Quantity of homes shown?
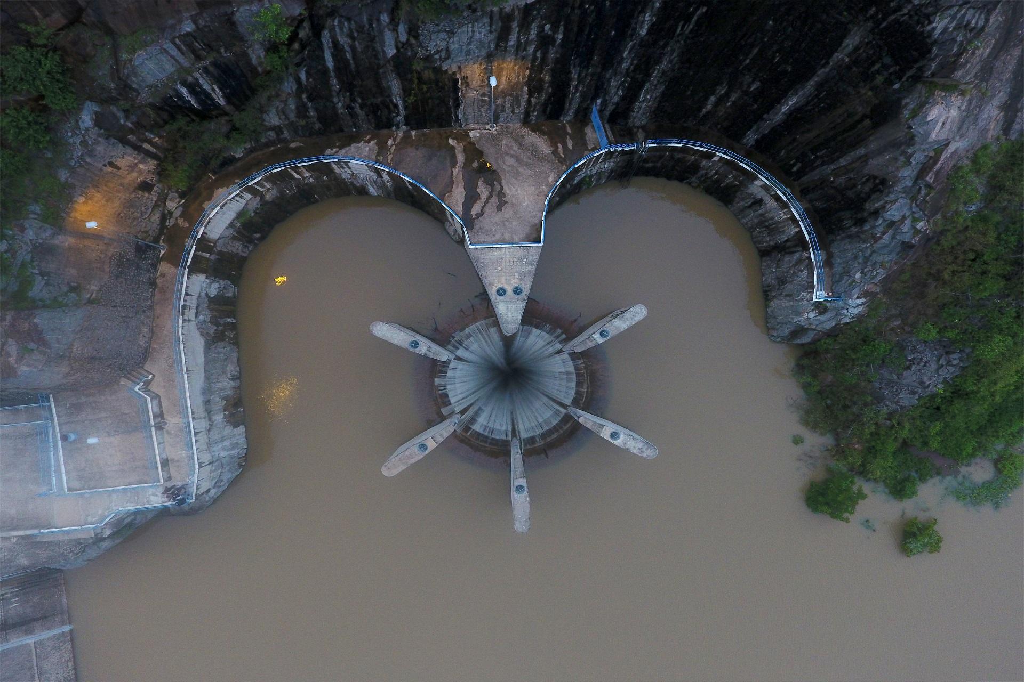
none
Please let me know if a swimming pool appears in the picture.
No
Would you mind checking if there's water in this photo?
Yes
